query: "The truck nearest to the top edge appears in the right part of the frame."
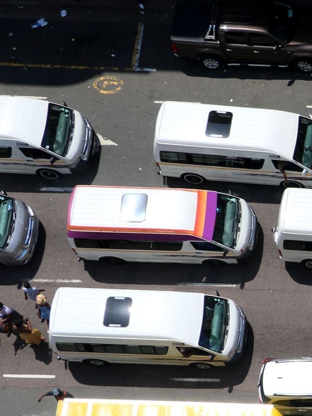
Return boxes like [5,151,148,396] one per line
[173,0,312,72]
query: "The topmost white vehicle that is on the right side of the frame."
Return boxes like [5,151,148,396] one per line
[151,102,312,189]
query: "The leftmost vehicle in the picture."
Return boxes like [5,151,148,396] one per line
[0,190,42,268]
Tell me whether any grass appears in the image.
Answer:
No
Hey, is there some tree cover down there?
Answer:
No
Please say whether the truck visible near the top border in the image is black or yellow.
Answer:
black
